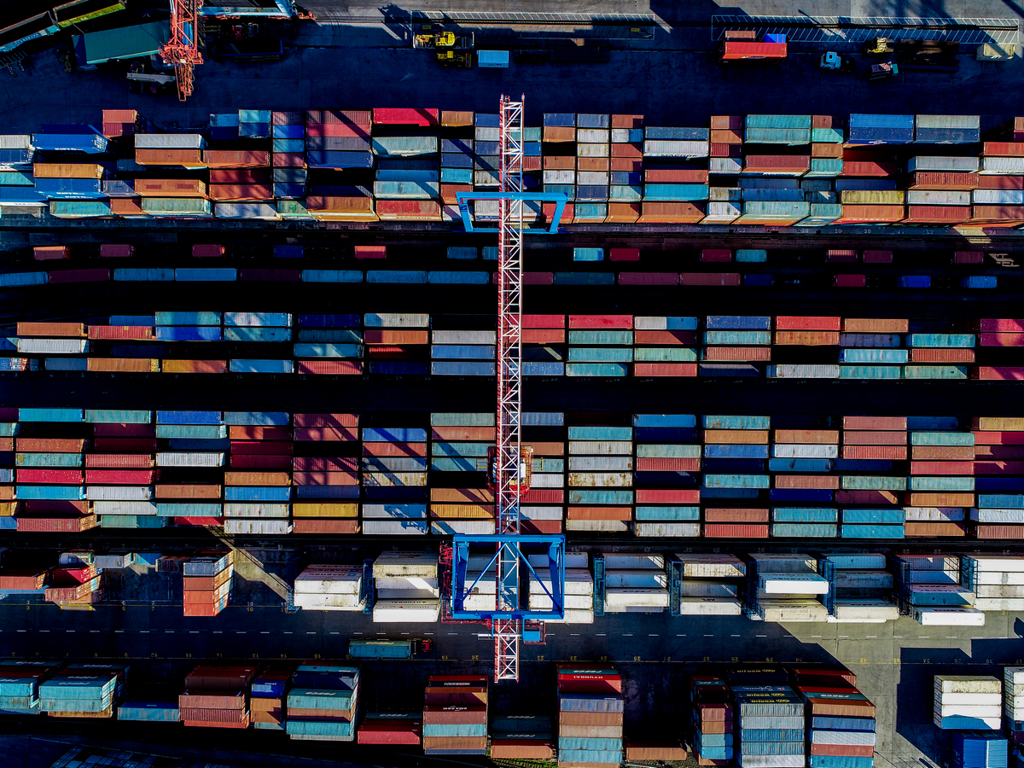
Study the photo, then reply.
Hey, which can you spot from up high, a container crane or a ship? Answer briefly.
container crane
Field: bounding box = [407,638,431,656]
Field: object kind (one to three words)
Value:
vehicle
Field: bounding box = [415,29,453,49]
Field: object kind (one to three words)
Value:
work vehicle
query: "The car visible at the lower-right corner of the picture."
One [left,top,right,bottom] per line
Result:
[1007,737,1021,758]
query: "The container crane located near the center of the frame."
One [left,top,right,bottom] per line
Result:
[440,94,573,688]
